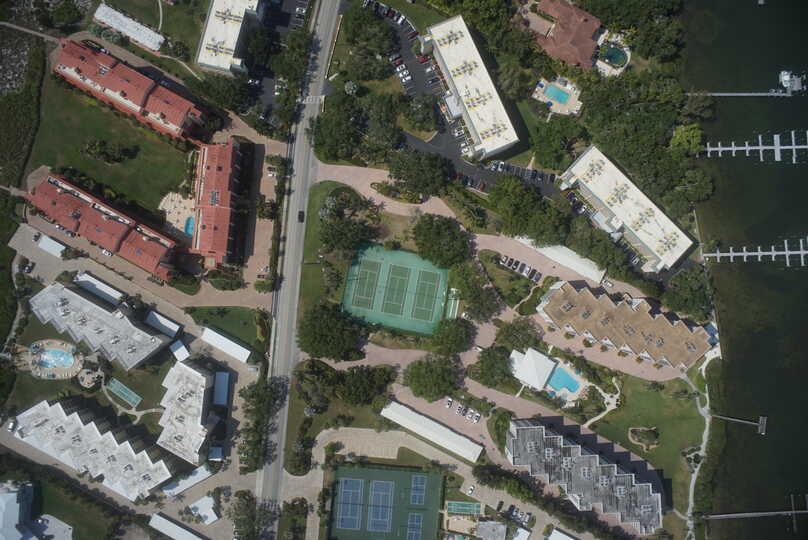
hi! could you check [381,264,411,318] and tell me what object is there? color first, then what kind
green tennis court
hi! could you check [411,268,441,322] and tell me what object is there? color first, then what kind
green tennis court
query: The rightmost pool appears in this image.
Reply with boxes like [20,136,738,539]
[599,40,627,66]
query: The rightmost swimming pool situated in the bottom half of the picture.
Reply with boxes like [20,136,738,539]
[545,361,590,403]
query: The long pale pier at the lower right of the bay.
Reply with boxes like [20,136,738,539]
[699,493,808,533]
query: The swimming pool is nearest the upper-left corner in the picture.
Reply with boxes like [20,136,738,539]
[159,192,196,250]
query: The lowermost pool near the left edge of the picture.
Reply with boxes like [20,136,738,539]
[30,339,83,380]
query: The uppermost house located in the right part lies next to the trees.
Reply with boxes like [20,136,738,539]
[533,0,602,71]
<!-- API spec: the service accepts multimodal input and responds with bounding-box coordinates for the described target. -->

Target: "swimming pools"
[30,339,83,380]
[599,40,627,66]
[545,361,590,403]
[532,77,583,114]
[159,192,196,250]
